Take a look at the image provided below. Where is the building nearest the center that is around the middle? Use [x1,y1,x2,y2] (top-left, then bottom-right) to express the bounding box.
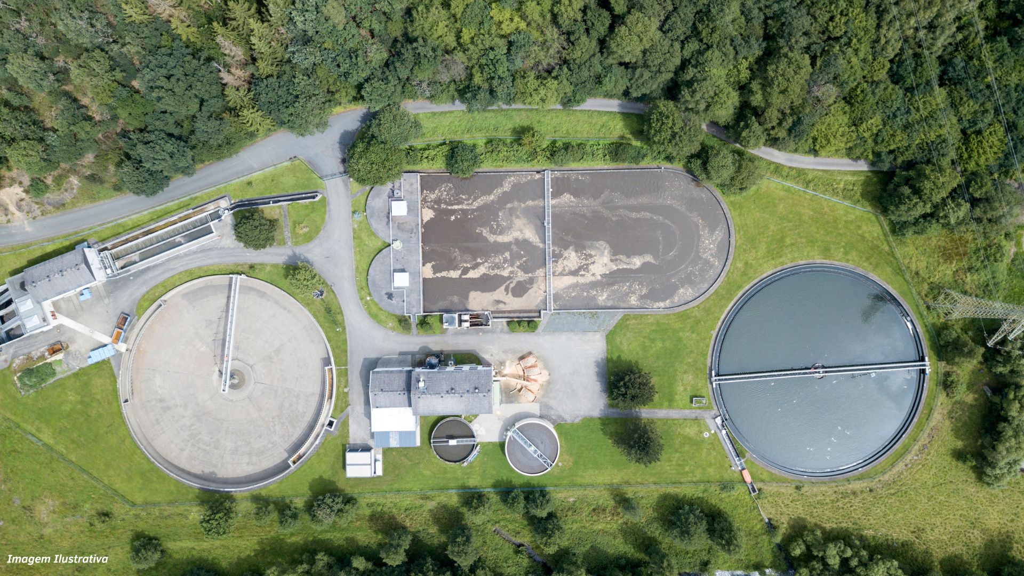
[444,312,495,328]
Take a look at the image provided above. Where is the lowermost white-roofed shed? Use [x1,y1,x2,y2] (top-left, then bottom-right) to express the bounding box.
[346,447,376,477]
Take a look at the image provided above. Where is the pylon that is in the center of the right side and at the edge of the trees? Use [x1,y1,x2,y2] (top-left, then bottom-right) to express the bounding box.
[924,285,1024,348]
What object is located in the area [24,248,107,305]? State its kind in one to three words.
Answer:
building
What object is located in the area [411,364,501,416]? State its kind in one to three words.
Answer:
building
